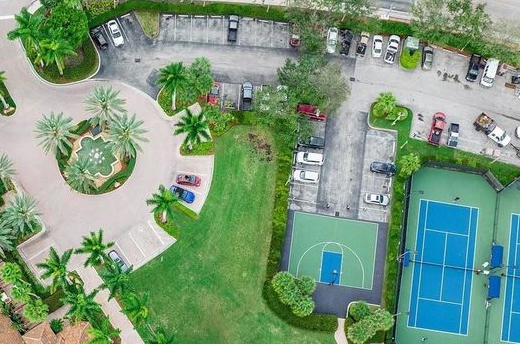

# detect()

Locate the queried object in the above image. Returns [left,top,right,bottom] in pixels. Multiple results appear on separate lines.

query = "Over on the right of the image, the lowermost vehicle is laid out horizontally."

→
[363,193,390,207]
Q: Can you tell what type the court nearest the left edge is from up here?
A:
basketball court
